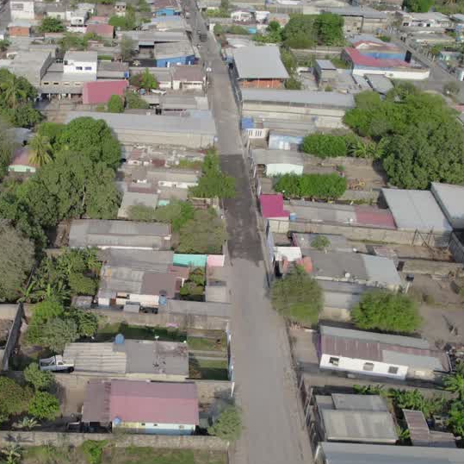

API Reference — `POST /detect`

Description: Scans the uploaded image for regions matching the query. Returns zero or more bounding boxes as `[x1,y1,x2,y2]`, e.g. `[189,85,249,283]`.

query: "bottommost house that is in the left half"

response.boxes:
[81,379,199,438]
